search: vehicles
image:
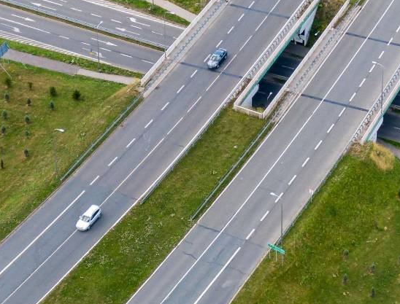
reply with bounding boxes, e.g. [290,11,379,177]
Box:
[75,207,104,231]
[206,51,228,69]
